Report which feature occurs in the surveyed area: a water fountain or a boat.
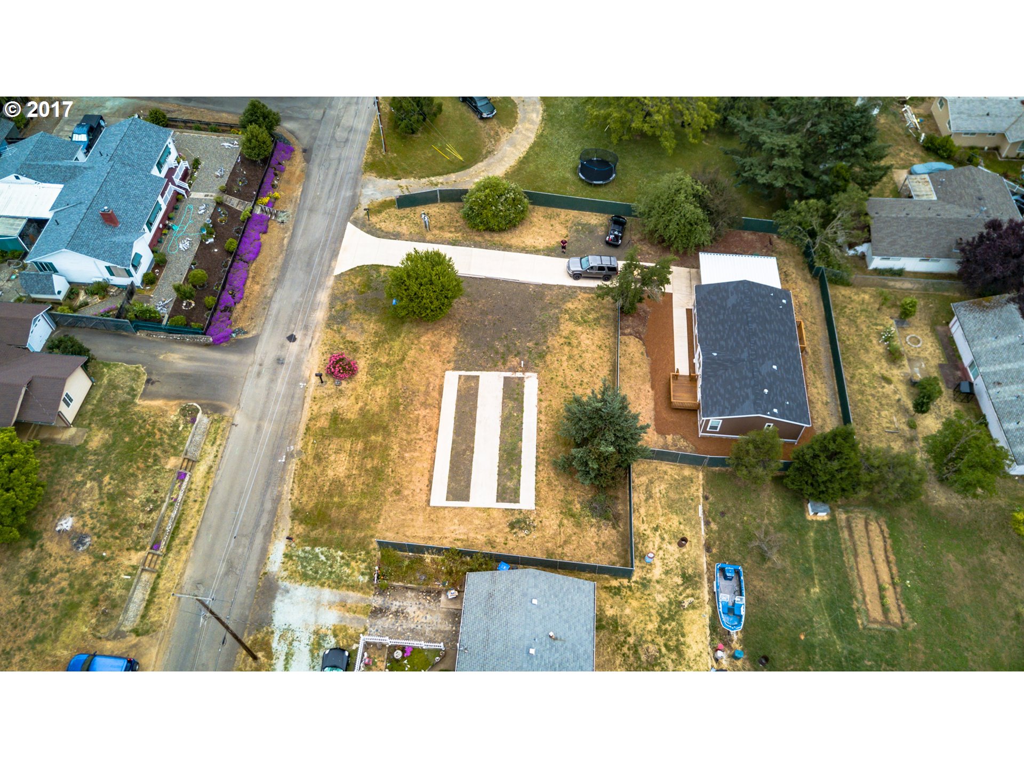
boat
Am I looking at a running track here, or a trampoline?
trampoline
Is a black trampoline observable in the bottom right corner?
No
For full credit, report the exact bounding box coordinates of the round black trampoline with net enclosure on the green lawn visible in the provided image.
[578,148,616,186]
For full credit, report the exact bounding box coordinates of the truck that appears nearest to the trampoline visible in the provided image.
[605,217,628,253]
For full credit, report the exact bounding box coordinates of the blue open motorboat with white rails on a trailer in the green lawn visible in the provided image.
[712,564,745,627]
